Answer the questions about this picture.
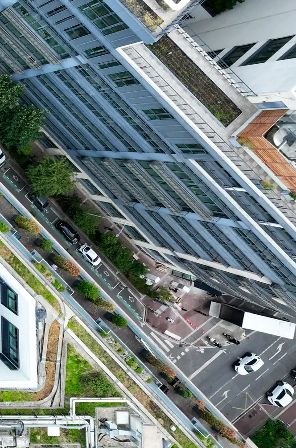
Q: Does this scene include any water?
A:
No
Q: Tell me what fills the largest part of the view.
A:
buildings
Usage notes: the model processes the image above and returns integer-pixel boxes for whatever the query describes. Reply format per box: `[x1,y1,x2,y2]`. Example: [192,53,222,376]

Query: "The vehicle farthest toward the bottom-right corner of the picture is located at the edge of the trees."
[267,383,292,407]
